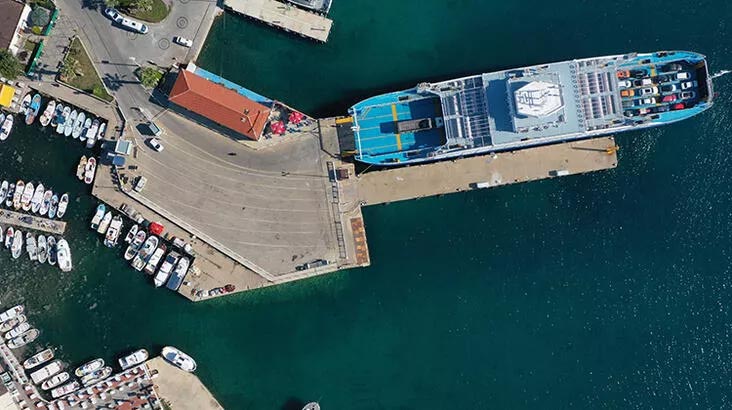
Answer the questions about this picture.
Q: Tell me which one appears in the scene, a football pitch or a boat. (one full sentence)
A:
The one in the frame is a boat.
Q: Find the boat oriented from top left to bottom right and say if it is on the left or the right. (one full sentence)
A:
The boat oriented from top left to bottom right sits on the left side.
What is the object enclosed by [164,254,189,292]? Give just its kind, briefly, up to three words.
boat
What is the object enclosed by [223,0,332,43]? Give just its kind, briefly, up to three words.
pier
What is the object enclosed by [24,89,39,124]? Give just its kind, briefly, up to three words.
boat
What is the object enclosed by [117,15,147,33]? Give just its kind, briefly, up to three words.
vehicle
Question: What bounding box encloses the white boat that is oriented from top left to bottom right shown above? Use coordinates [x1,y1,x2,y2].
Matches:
[159,346,197,374]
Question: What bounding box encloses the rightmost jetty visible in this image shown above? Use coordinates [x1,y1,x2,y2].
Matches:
[362,136,617,206]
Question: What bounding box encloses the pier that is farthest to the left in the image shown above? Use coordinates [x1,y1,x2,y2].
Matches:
[0,209,68,234]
